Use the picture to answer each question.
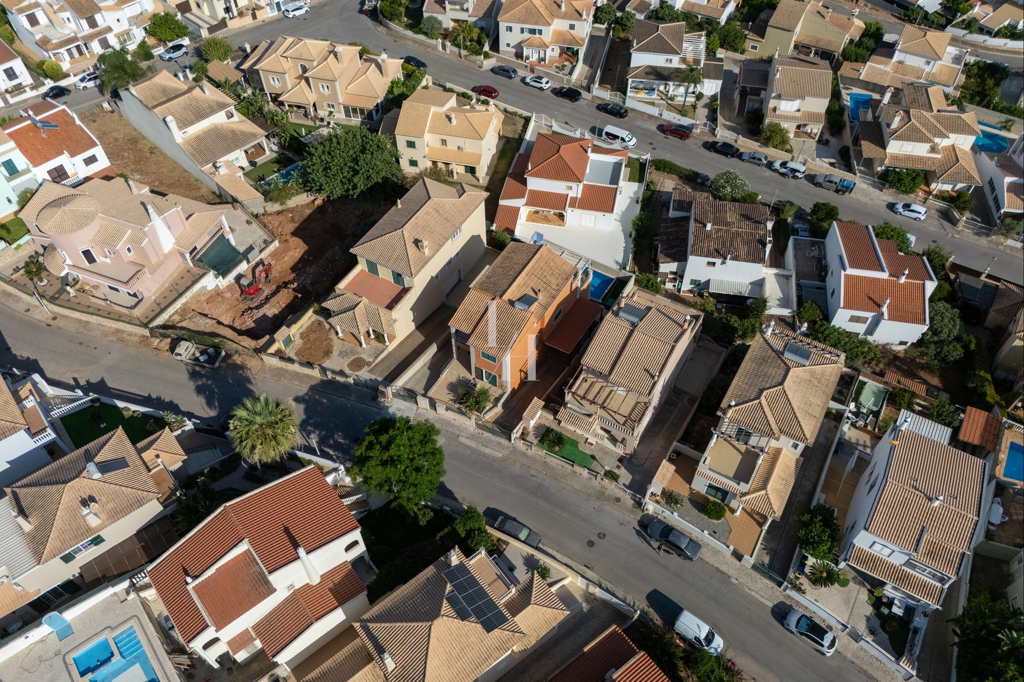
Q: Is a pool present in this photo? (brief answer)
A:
Yes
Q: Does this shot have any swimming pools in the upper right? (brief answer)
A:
Yes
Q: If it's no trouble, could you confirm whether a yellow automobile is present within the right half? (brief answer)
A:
No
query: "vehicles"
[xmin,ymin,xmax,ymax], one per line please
[238,273,273,310]
[597,101,629,117]
[772,158,808,178]
[555,83,584,102]
[669,602,729,655]
[524,74,552,90]
[404,52,430,69]
[813,172,857,194]
[783,608,843,658]
[284,4,310,17]
[159,43,188,60]
[493,64,519,78]
[662,122,695,140]
[476,84,503,98]
[602,123,638,149]
[168,339,222,370]
[494,507,551,550]
[893,201,931,220]
[645,517,704,561]
[210,417,234,440]
[73,71,102,90]
[40,83,72,98]
[706,139,742,157]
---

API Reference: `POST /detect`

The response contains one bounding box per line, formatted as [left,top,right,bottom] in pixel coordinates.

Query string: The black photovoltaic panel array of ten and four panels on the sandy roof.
[442,563,514,634]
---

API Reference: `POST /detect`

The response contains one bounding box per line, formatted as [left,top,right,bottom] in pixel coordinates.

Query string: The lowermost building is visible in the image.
[545,623,670,682]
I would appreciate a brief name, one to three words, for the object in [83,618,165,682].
swimming pool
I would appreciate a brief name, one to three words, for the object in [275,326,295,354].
shed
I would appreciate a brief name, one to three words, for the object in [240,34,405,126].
house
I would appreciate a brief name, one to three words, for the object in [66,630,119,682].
swimming pool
